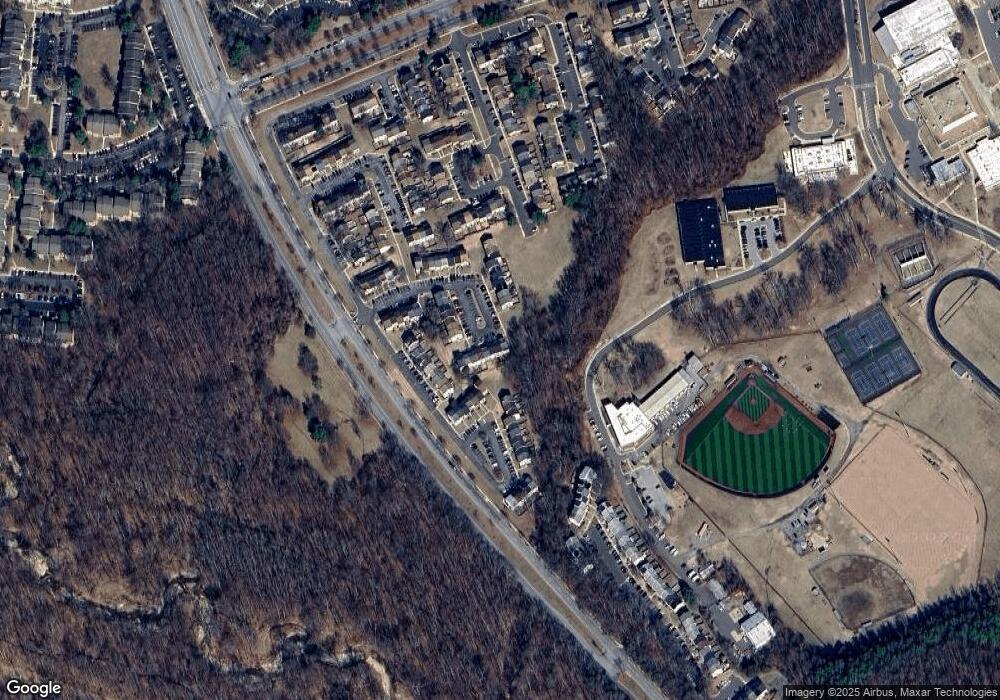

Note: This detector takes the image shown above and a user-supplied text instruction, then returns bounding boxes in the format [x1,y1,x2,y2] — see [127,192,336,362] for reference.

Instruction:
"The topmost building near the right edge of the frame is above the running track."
[873,0,961,89]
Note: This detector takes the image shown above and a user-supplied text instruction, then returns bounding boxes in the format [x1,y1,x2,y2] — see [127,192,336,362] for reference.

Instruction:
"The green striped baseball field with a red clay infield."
[677,358,838,497]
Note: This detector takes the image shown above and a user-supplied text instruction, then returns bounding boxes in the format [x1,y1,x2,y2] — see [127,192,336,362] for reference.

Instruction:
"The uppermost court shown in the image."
[895,244,936,287]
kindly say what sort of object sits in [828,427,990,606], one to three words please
baseball field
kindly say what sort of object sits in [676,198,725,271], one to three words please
building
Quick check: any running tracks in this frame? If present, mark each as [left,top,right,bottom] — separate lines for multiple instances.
[926,268,1000,398]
